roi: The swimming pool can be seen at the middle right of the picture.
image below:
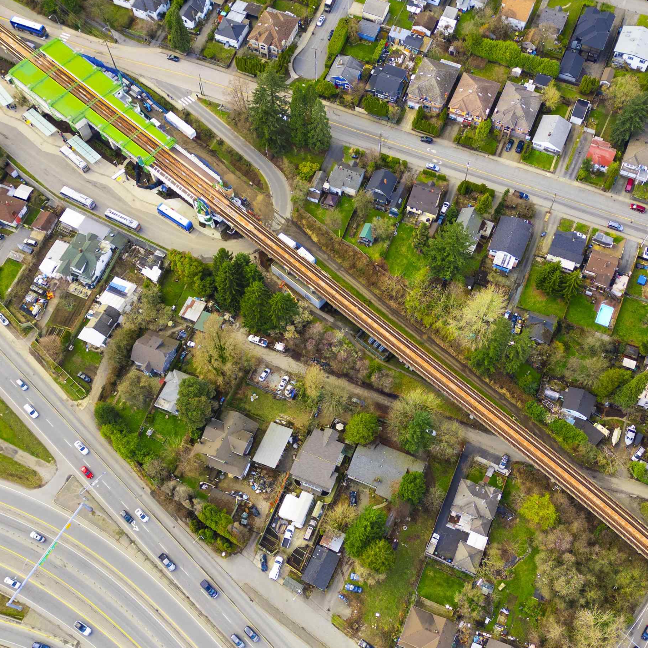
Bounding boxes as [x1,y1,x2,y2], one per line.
[596,302,615,327]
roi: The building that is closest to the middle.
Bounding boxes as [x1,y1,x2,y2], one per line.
[267,262,328,313]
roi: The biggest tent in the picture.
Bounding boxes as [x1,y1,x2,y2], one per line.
[280,492,314,528]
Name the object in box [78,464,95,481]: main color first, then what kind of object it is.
red car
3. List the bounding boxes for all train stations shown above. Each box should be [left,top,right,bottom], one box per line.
[6,37,241,226]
